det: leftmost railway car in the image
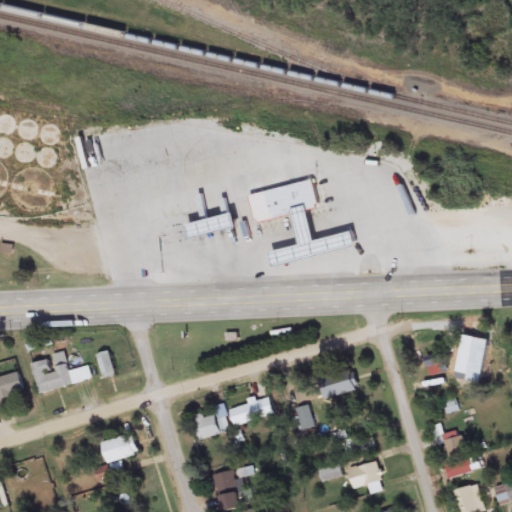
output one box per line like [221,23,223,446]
[1,3,42,17]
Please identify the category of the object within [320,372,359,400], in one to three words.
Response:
house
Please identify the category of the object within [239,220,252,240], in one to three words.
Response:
vehicle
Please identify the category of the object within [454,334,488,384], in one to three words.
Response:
building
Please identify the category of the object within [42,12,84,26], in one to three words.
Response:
rail car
